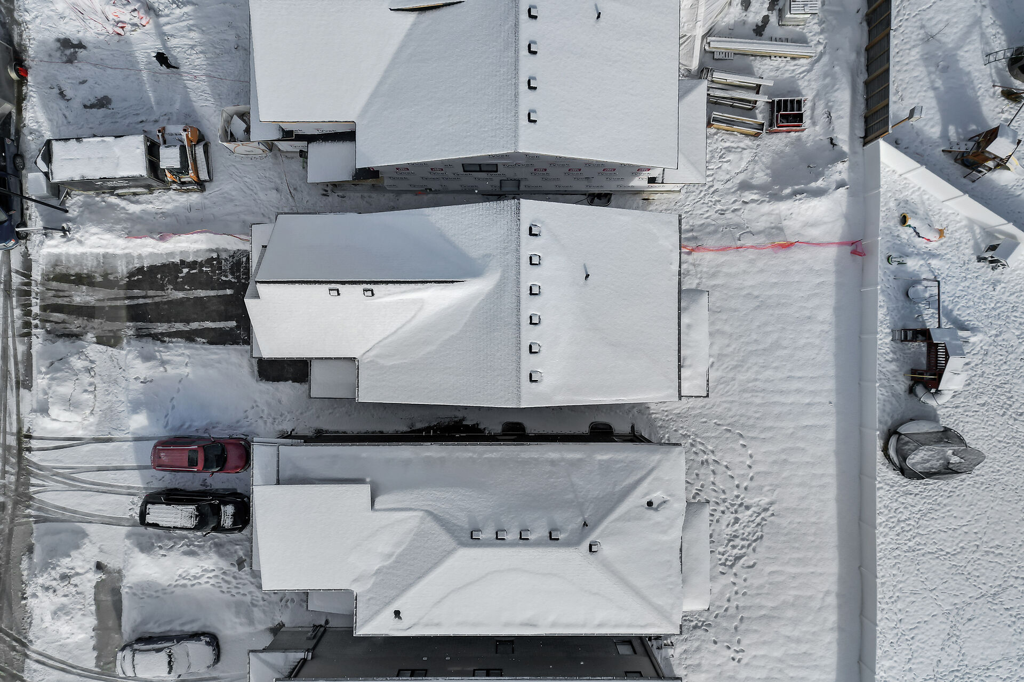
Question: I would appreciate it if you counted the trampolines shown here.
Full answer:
The picture shows just 1 trampoline.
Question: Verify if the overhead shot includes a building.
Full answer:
Yes, I can see a building in this picture.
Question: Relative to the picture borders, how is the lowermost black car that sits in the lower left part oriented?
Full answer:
Seen from above, the lowermost black car that sits in the lower left part lies horizontally.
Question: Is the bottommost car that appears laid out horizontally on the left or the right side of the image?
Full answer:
The bottommost car that appears laid out horizontally sits on the left side.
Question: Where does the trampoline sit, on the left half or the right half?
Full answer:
The trampoline appears in the right half of the scene.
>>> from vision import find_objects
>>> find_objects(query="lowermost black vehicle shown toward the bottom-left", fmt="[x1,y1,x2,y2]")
[139,488,250,538]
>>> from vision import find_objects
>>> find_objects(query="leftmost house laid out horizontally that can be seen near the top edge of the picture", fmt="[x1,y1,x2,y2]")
[249,0,707,193]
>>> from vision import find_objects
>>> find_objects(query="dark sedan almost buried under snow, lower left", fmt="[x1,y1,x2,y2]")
[119,631,220,678]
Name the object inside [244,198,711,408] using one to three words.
house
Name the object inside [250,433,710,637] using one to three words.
house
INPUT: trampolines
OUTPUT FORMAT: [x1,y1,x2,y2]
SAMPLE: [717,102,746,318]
[886,416,986,483]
